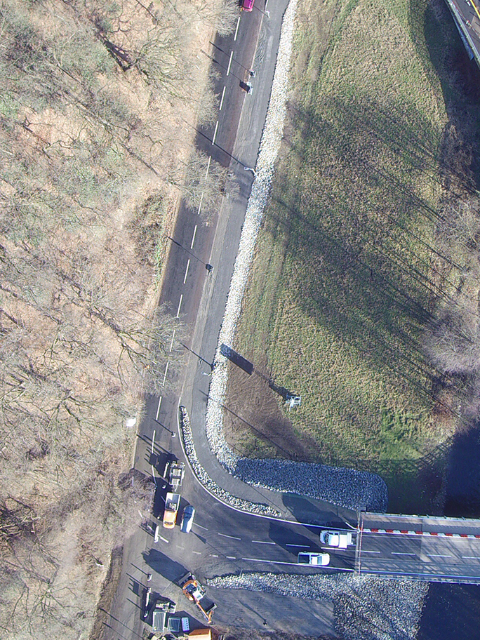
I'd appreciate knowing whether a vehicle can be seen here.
Yes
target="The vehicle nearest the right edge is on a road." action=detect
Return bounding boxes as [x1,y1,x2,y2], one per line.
[319,530,355,548]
